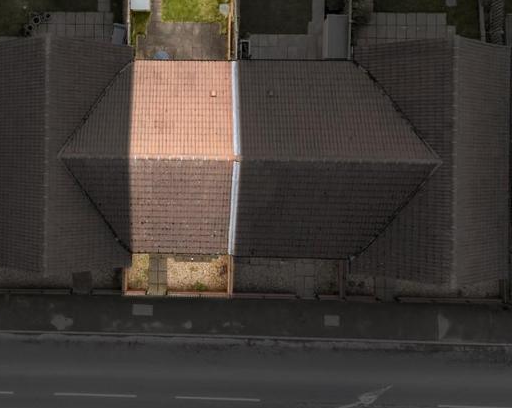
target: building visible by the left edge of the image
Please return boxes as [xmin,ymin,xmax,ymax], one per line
[0,35,135,278]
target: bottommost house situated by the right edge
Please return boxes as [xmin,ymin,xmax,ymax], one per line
[348,36,512,289]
